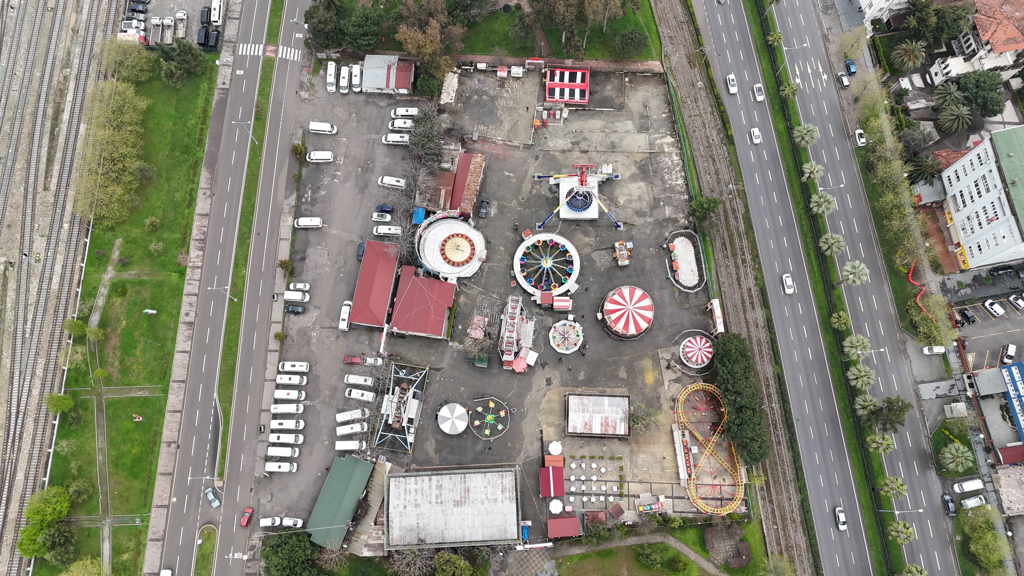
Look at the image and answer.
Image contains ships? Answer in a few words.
Yes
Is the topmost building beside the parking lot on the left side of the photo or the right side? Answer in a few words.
right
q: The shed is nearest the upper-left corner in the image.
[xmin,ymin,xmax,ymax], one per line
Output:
[362,55,415,97]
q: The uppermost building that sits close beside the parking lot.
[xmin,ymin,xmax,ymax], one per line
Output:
[943,134,1024,269]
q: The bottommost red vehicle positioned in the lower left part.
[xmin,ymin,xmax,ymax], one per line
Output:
[239,506,255,529]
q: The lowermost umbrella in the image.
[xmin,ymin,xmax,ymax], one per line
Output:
[549,499,563,514]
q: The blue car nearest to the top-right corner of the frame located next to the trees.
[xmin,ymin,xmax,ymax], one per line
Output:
[845,60,857,77]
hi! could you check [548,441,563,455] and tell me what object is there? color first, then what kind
white umbrella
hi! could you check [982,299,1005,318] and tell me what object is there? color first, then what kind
white car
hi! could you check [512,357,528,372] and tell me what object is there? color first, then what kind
pink umbrella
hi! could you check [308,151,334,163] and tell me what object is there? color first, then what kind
white vehicle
